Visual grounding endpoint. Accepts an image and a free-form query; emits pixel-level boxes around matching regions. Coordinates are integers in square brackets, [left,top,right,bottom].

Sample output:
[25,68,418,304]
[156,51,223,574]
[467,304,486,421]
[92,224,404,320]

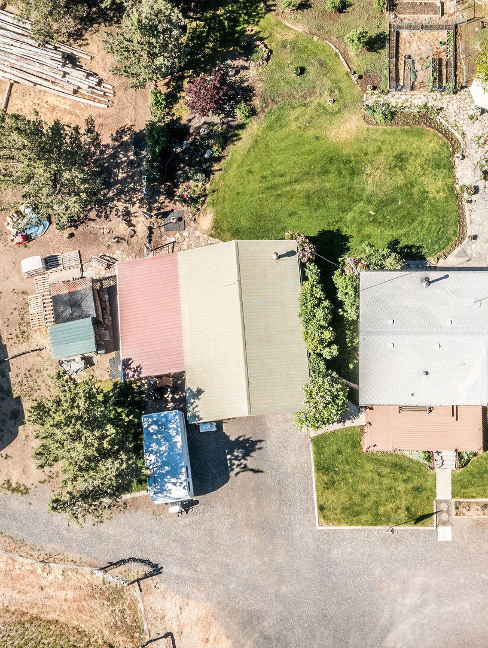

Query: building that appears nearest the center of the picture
[115,240,313,429]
